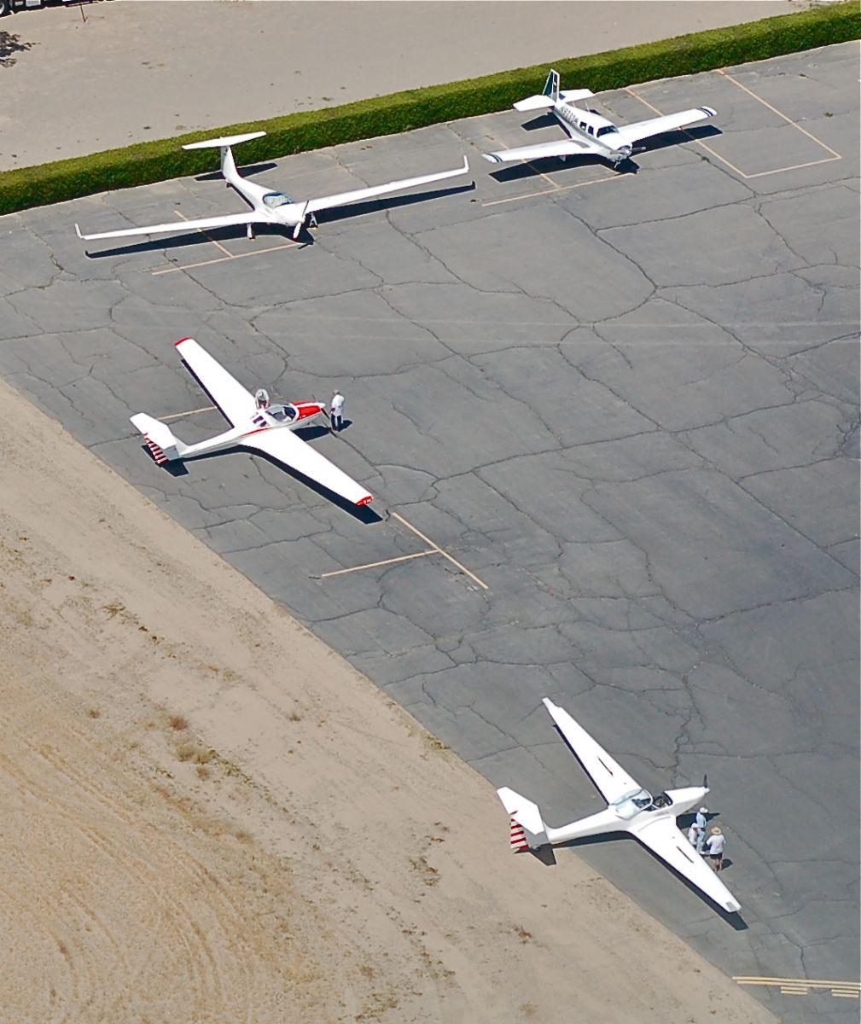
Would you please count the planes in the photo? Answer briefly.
4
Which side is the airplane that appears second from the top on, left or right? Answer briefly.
left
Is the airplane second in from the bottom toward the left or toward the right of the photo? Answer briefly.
left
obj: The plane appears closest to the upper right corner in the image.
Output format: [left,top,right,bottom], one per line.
[478,68,717,174]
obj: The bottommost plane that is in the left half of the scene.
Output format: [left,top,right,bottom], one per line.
[128,339,372,504]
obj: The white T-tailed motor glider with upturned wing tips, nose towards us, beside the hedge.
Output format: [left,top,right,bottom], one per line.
[73,133,471,244]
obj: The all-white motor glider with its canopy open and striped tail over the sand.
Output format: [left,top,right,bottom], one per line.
[496,700,744,910]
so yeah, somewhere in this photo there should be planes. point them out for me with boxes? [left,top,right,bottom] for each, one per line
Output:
[496,700,744,910]
[478,68,717,174]
[73,133,471,244]
[128,339,372,504]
